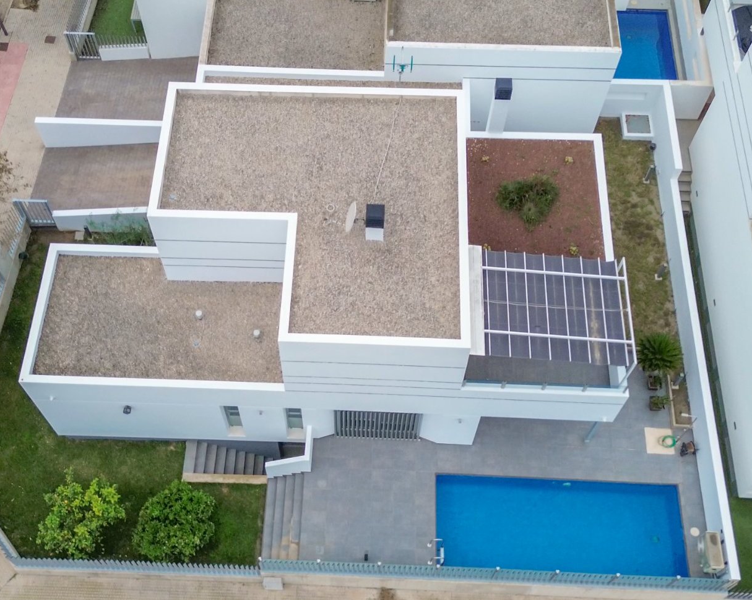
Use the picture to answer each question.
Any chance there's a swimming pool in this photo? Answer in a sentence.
Yes, the frame does contain a swimming pool.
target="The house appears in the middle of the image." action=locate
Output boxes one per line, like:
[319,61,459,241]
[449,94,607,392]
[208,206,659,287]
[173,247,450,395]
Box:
[19,66,639,460]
